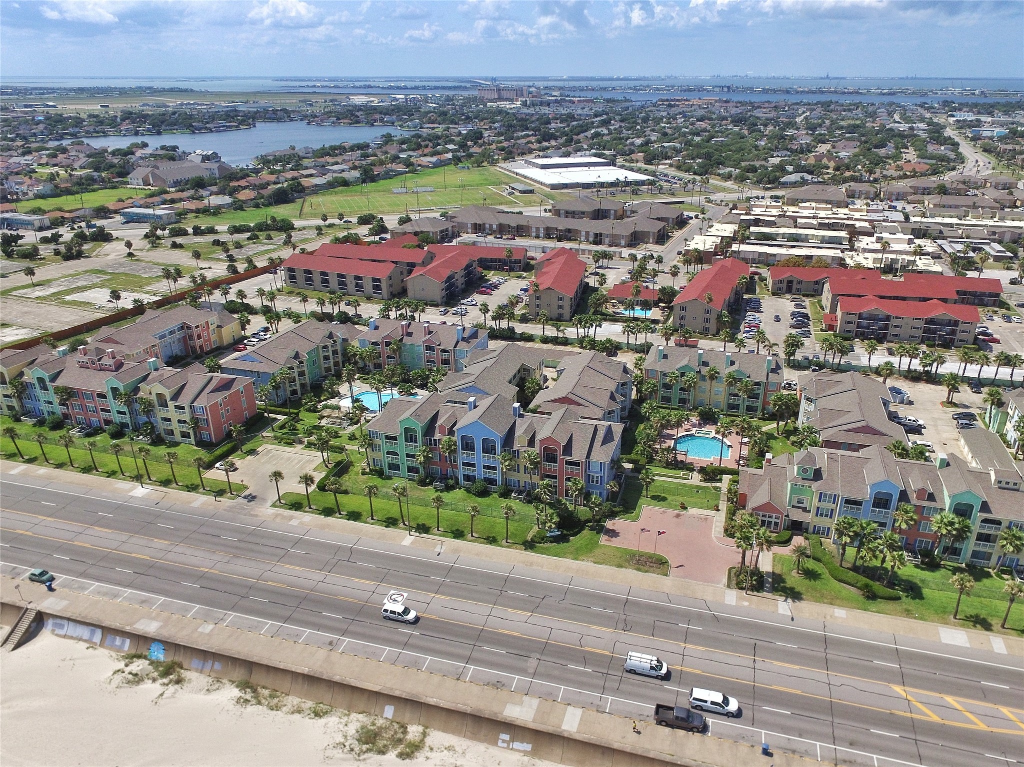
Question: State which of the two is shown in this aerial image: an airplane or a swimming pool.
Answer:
swimming pool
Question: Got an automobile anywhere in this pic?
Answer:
Yes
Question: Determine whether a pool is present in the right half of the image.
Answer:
Yes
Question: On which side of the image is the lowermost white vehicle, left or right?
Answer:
right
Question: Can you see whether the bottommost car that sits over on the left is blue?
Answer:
No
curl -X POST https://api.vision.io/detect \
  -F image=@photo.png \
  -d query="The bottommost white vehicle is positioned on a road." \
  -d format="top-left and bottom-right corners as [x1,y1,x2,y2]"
[690,687,740,717]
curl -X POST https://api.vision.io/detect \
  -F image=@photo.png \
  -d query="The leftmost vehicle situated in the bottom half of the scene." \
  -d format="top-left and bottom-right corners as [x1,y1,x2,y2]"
[27,567,56,583]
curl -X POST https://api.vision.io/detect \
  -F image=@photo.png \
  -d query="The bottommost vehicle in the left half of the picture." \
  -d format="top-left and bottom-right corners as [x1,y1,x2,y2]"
[381,600,418,622]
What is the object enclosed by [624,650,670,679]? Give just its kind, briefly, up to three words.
vehicle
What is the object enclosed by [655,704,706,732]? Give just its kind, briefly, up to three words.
vehicle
